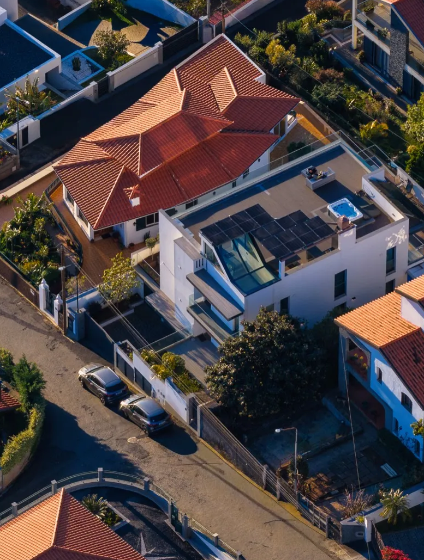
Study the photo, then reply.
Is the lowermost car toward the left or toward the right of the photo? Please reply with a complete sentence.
The lowermost car is on the left side of the image.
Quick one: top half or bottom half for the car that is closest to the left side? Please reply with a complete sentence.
You can find the car that is closest to the left side in the bottom half.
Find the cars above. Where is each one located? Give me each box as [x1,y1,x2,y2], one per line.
[79,365,127,405]
[120,395,169,434]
